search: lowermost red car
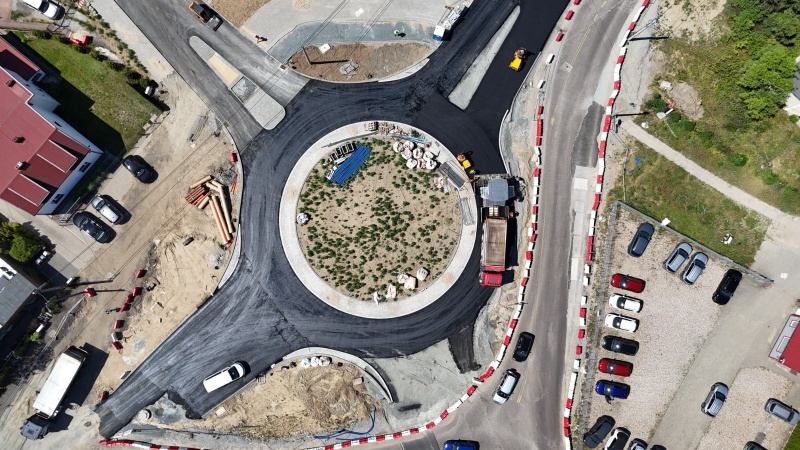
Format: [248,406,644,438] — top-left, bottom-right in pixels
[597,357,632,376]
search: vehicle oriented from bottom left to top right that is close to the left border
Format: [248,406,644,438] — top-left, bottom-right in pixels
[21,348,92,439]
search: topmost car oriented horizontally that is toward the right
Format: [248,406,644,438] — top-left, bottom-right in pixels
[609,273,645,292]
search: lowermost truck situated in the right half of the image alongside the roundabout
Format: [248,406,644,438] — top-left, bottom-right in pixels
[480,212,508,292]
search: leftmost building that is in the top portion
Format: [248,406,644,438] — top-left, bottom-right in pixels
[0,62,102,216]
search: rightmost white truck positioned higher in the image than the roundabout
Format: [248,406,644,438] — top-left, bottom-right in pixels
[428,0,471,45]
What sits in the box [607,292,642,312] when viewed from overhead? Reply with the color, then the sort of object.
white car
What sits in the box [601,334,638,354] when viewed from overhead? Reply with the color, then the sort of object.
black car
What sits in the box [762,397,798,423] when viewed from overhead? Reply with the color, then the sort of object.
gray car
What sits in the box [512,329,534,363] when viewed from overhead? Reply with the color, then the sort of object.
black car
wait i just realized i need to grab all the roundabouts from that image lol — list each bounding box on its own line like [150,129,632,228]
[279,120,477,319]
